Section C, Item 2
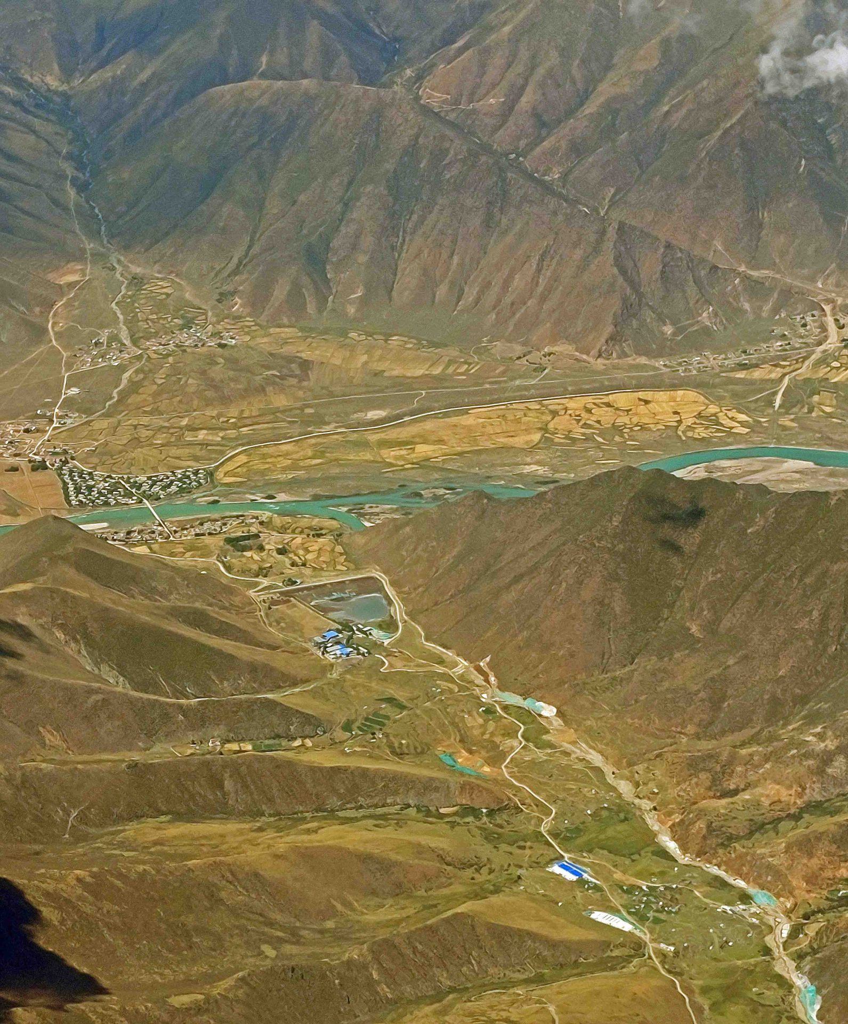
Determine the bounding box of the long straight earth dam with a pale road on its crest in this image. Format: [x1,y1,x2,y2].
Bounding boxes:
[255,572,373,595]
